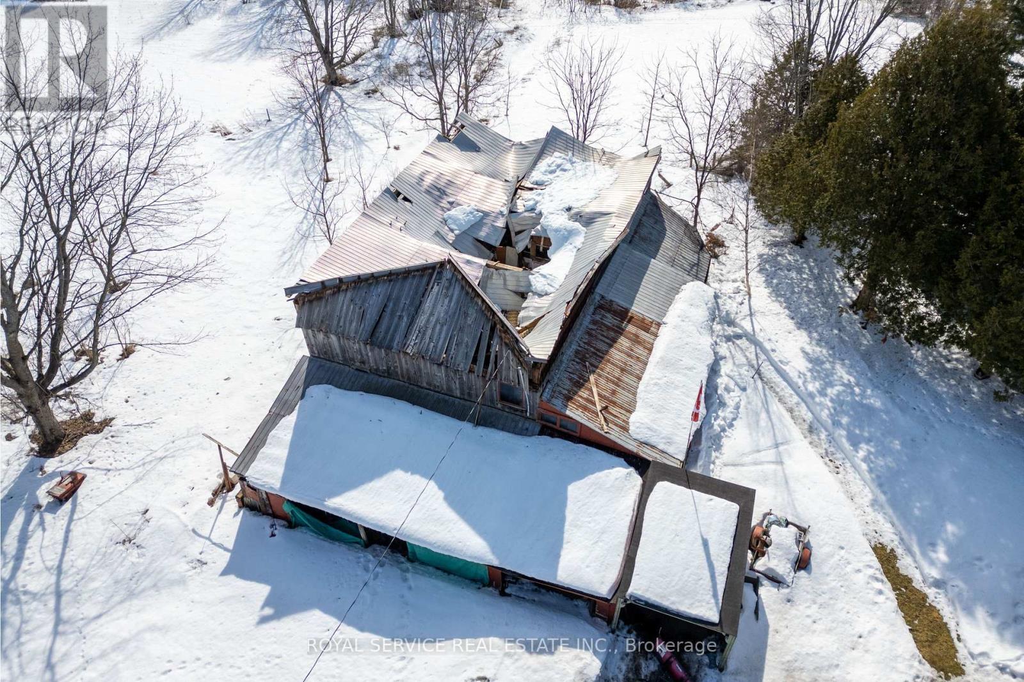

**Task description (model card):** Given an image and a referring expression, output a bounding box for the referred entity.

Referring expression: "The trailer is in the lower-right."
[749,509,815,591]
